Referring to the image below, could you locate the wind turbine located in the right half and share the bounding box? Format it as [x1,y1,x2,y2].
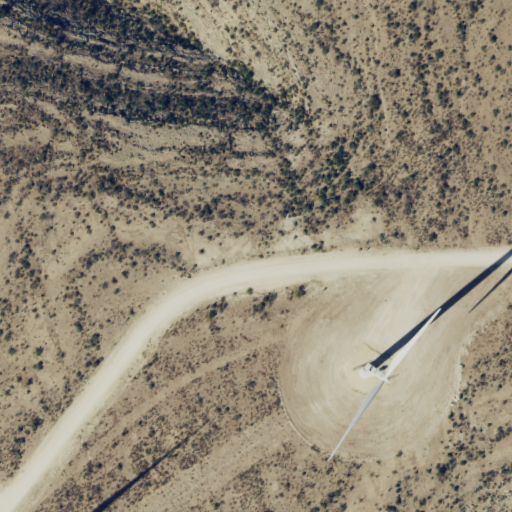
[332,308,440,461]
